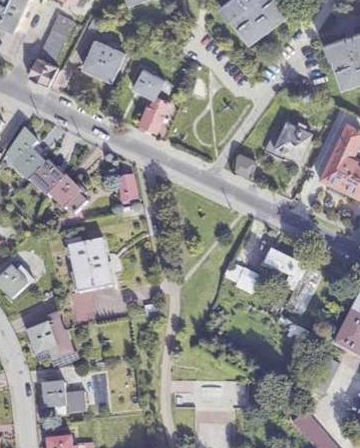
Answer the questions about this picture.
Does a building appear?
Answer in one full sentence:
Yes, the photo shows a building.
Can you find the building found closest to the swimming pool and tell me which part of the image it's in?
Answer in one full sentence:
The building found closest to the swimming pool sits in the bottom left section of the image.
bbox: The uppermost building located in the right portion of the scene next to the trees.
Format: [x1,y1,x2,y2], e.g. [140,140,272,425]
[220,0,286,48]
